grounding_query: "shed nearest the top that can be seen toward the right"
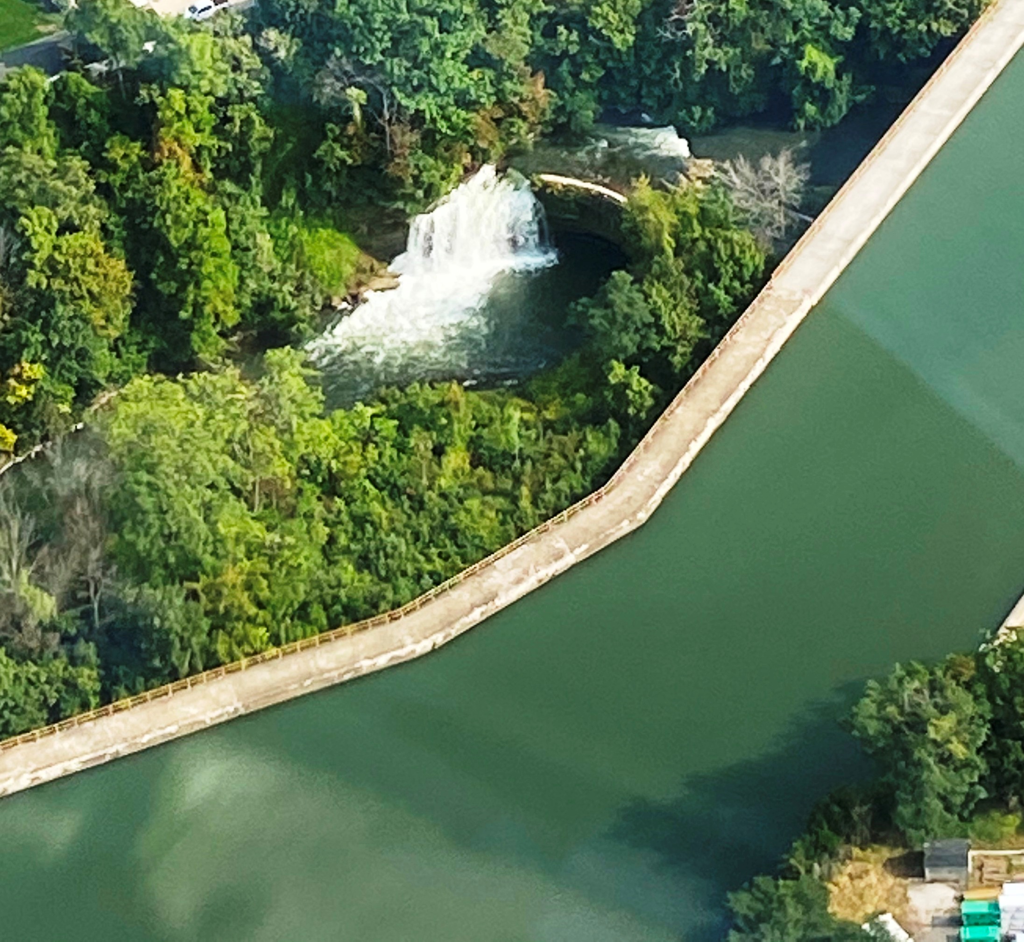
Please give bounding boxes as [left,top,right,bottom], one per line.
[920,836,970,880]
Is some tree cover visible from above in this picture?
Yes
